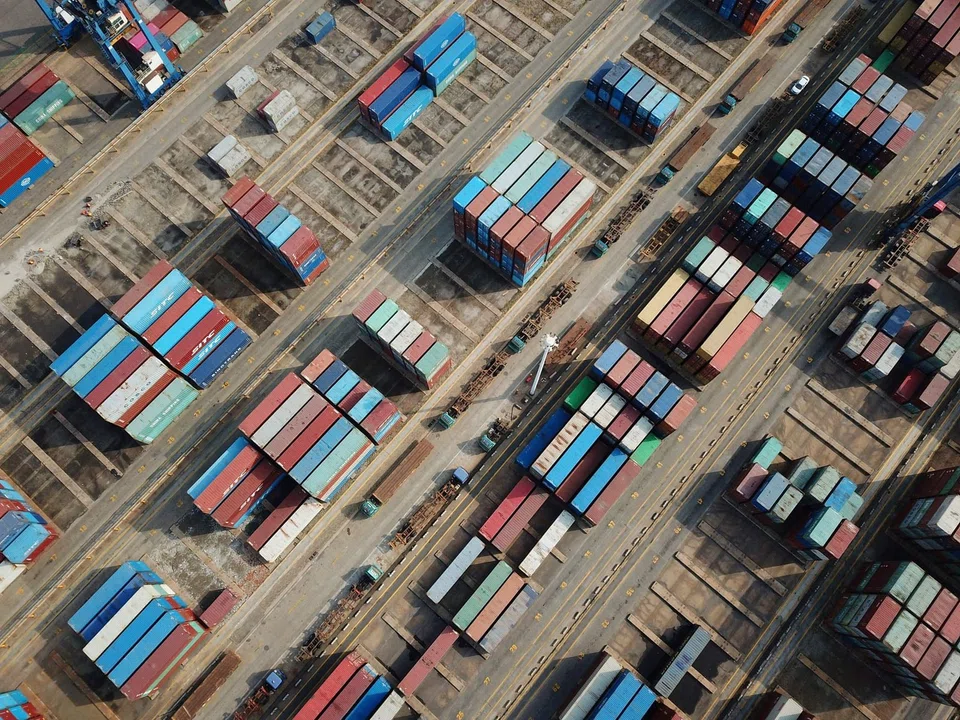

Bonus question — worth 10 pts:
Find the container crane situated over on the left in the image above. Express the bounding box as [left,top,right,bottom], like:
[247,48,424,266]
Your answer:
[32,0,185,110]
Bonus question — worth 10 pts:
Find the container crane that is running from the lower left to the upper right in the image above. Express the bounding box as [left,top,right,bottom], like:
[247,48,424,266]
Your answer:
[884,156,960,236]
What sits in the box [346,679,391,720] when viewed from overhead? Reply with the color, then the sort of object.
blue shipping container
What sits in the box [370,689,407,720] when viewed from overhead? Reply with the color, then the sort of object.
white shipping container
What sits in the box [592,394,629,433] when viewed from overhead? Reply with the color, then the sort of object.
white shipping container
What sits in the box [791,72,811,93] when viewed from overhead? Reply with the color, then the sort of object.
white car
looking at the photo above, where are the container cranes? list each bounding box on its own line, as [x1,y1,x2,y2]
[884,156,960,236]
[32,0,185,110]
